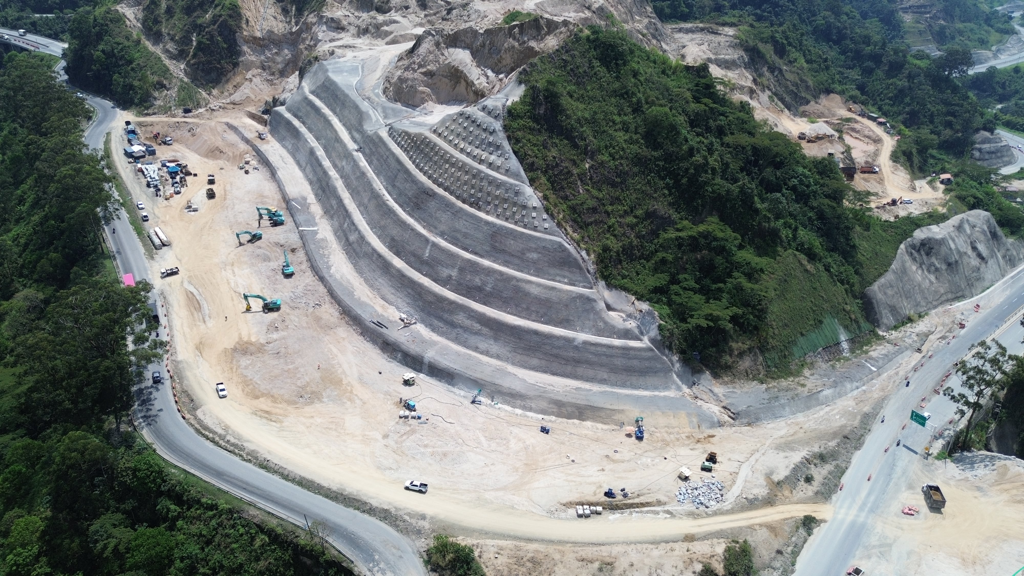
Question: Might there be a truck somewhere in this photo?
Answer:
Yes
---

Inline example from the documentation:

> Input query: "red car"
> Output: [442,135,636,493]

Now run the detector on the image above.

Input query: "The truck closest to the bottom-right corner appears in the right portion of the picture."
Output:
[919,481,952,513]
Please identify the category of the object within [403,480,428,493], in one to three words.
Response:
vehicle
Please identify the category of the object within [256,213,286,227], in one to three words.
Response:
work vehicle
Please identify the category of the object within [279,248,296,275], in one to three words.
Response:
work vehicle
